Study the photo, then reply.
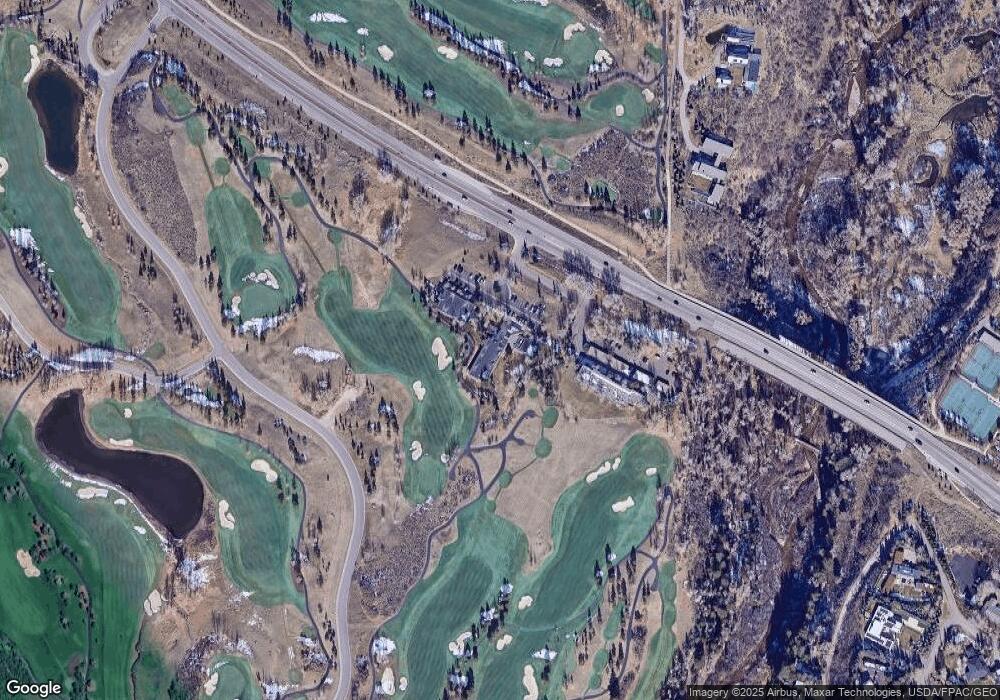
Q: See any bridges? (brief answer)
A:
Yes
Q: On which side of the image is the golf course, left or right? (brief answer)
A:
left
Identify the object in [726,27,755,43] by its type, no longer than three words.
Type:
house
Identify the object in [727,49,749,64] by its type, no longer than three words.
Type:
house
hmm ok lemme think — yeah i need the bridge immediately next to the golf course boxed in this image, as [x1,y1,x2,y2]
[680,293,918,451]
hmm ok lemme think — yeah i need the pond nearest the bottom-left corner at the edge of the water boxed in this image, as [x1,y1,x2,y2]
[36,390,203,537]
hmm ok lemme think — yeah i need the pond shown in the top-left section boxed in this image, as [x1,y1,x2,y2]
[27,61,82,174]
